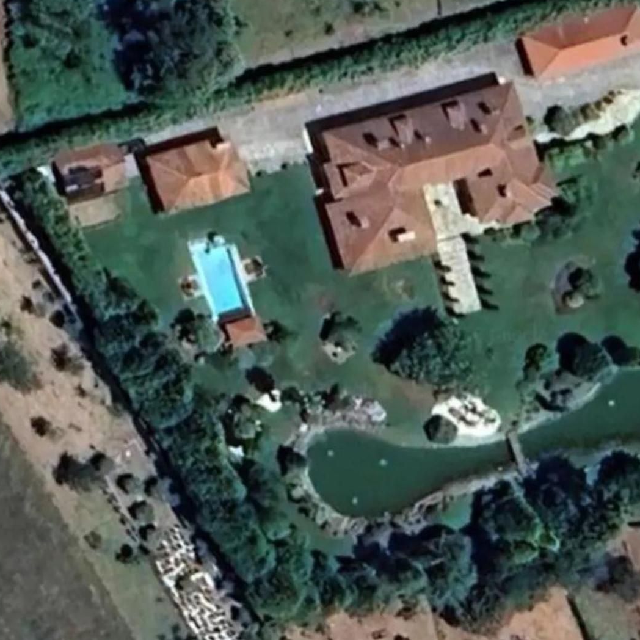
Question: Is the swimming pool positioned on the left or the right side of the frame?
left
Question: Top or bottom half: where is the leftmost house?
top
